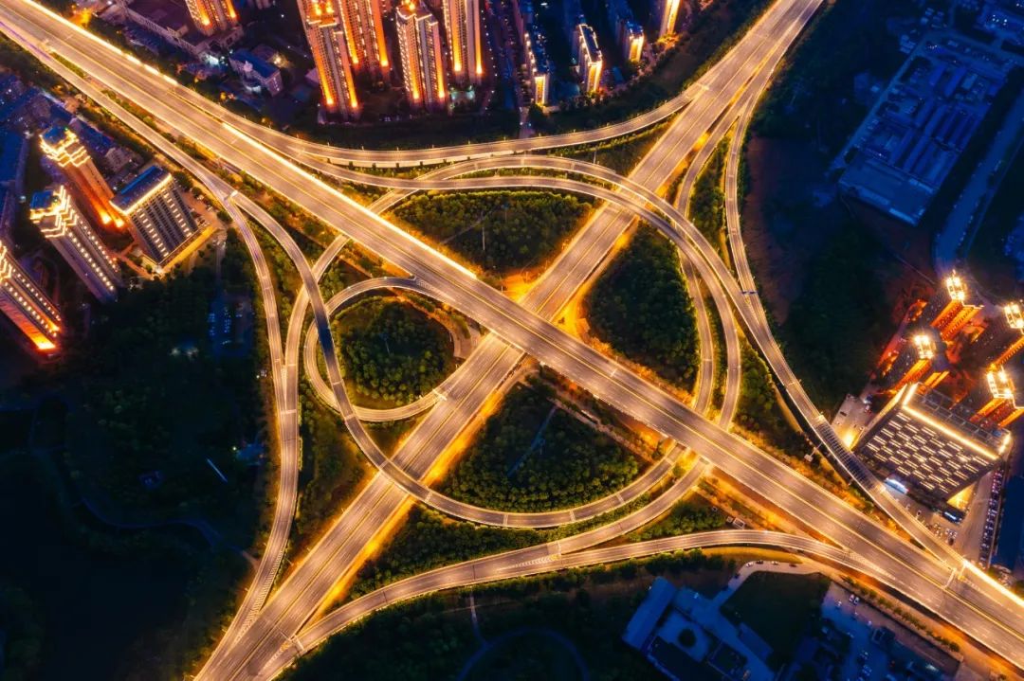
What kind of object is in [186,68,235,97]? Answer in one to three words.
shed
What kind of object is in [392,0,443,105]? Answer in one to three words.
building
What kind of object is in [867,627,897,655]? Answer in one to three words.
building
